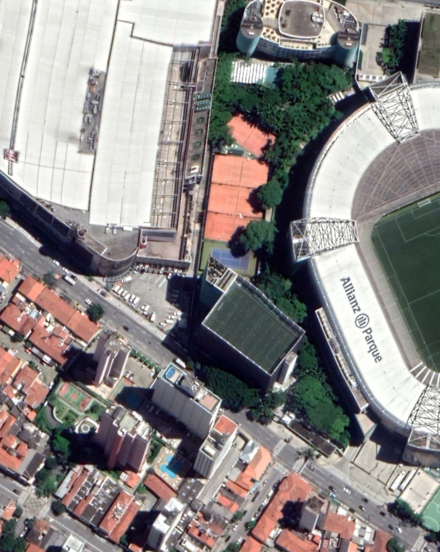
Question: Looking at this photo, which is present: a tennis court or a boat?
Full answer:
I can see a tennis court in this picture.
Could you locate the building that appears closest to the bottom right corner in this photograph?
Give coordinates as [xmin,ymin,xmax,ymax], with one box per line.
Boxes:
[368,529,393,552]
